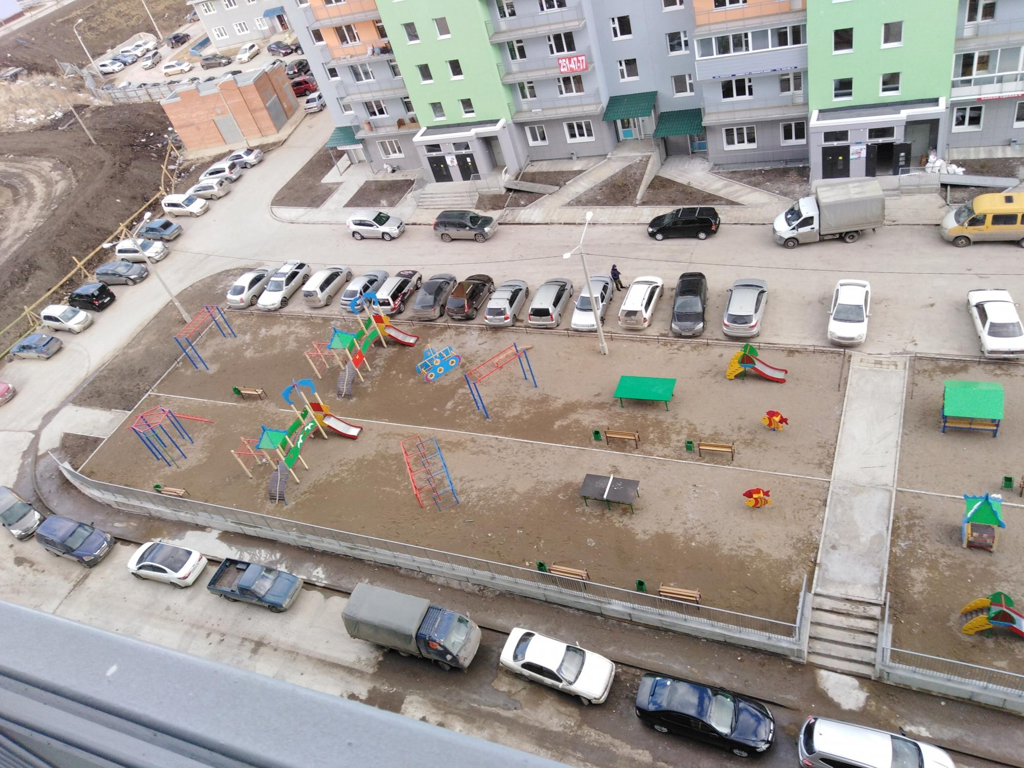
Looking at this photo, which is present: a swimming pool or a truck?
truck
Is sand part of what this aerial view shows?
Yes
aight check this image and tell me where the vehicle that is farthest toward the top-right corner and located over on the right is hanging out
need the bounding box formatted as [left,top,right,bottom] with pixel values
[940,188,1024,246]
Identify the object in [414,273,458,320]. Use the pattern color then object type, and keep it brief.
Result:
gray car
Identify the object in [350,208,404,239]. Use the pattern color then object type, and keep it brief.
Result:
white car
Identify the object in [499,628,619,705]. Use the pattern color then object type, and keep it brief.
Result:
white car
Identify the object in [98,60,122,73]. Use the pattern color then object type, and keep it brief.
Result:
white vehicle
